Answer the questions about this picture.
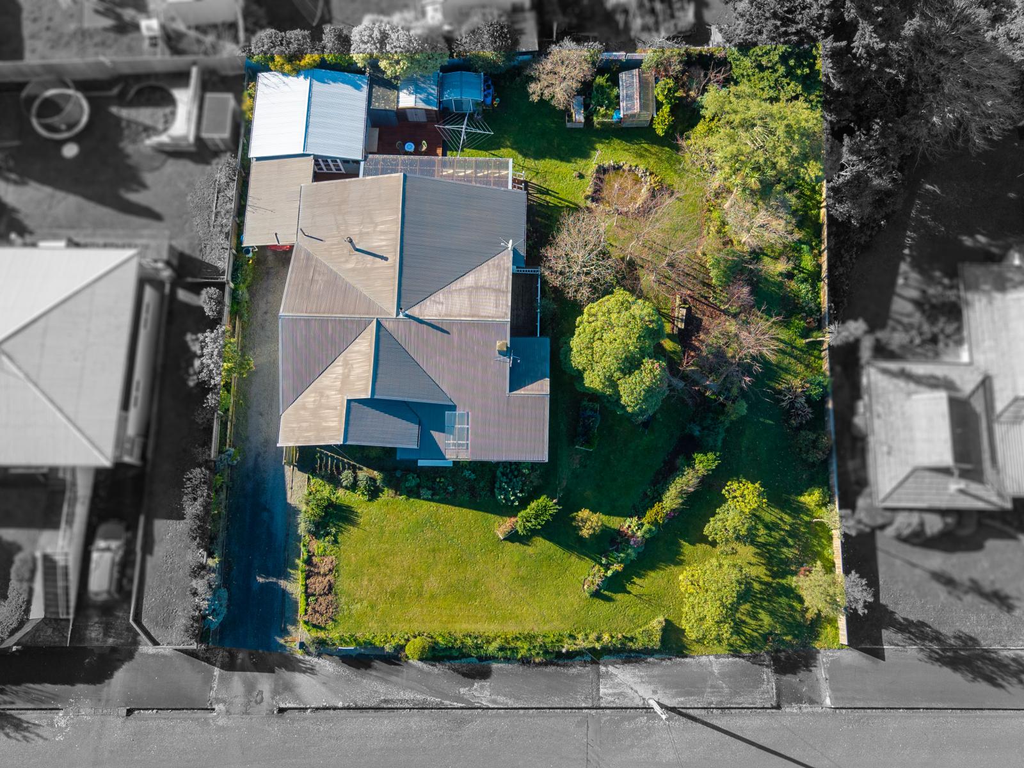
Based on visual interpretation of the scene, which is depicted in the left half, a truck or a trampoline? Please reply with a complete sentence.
The one visible in the left half is a trampoline.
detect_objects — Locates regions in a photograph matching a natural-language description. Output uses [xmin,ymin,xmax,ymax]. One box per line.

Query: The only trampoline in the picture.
[7,71,96,144]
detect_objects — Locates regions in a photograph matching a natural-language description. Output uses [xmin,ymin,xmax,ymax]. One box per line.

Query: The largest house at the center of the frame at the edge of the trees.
[278,172,551,465]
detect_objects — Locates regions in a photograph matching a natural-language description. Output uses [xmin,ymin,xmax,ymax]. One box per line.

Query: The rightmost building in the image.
[850,252,1024,510]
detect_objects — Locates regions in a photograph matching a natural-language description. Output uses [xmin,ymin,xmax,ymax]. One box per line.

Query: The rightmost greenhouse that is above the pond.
[616,68,654,127]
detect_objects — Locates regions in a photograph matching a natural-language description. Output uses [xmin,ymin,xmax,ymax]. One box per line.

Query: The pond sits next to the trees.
[584,160,655,215]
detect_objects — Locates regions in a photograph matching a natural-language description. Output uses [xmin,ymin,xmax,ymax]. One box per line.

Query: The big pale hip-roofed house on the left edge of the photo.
[0,235,171,467]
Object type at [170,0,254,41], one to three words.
shed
